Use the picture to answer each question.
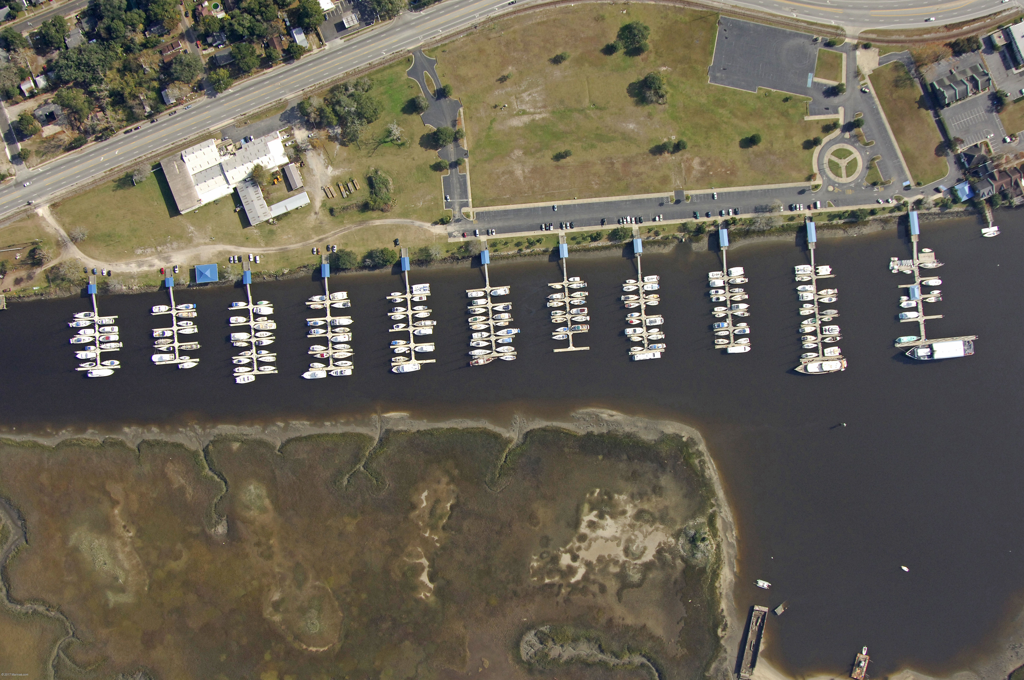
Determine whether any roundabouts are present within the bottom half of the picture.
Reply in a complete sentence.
No, no roundabout appears within the bottom half of the picture.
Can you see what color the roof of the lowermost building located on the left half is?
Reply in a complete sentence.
The roof of the lowermost building located on the left half is blue.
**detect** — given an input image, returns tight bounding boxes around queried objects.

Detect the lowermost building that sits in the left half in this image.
[195,263,219,283]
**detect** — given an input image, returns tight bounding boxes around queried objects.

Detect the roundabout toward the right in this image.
[824,144,862,182]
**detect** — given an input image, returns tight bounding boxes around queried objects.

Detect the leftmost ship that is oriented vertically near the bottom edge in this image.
[738,605,768,679]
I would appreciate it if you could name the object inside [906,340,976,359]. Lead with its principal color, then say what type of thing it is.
white vessel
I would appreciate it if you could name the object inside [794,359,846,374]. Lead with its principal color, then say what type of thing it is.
white boat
